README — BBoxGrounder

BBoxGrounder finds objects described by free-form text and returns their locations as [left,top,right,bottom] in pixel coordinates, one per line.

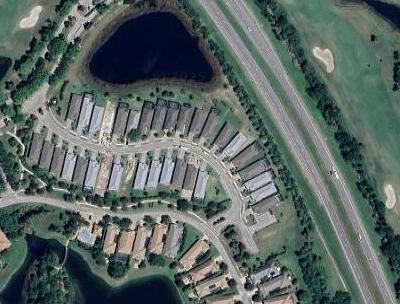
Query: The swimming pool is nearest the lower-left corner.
[78,227,96,244]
